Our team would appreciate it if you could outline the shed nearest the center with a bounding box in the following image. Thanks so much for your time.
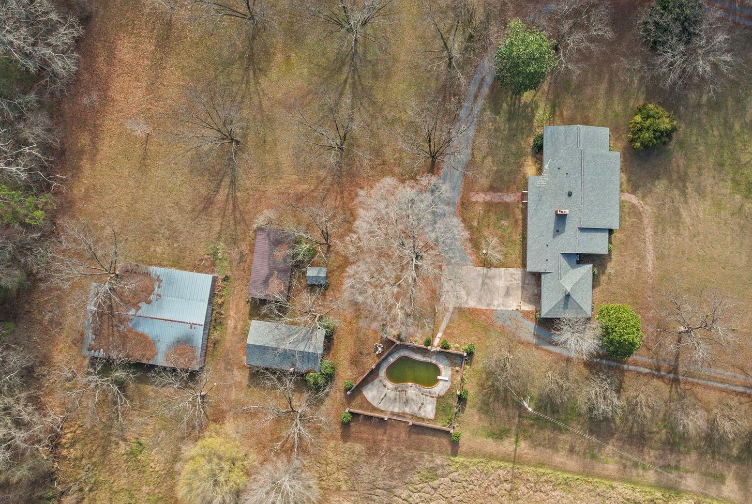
[307,268,329,285]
